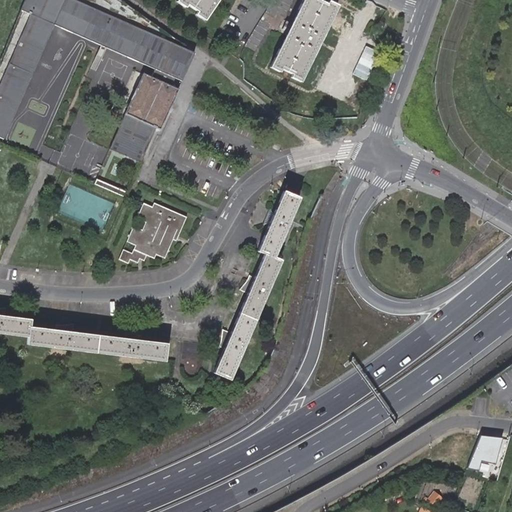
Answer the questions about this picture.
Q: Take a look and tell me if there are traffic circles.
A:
No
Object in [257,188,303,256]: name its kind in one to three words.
building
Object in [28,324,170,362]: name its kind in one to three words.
building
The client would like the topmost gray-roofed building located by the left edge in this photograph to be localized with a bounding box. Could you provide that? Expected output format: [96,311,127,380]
[0,0,196,141]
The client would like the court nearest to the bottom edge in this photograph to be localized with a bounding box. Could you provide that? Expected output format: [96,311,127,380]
[58,184,116,232]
